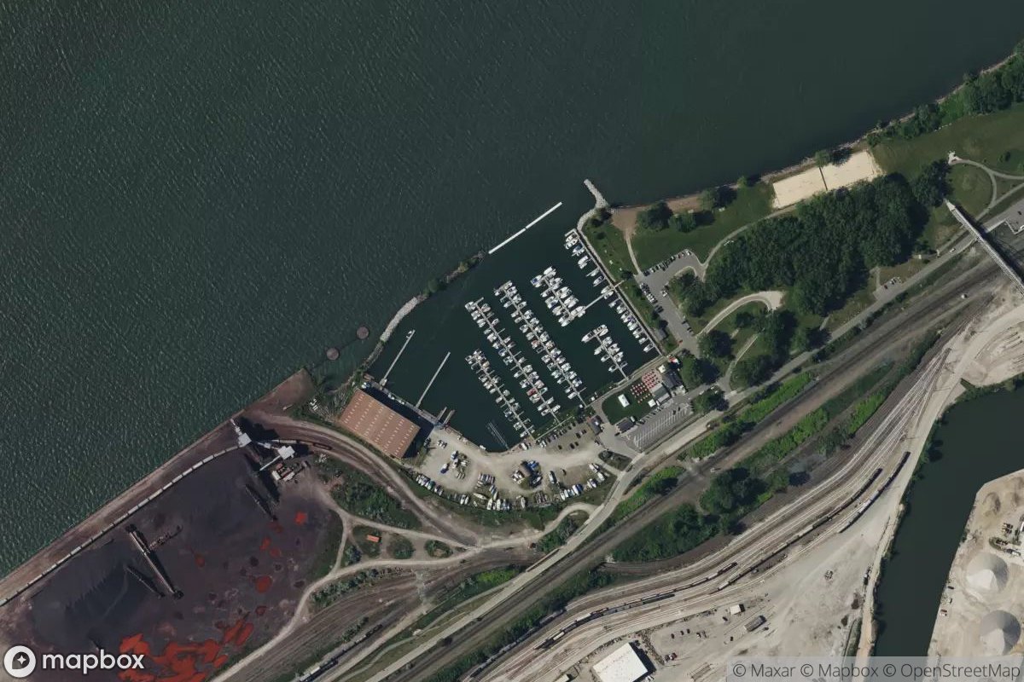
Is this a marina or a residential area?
marina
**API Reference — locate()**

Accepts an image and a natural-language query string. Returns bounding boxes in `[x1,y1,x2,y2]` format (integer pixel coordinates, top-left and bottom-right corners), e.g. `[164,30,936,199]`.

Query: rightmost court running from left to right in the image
[822,151,883,189]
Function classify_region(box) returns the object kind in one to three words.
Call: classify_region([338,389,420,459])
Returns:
building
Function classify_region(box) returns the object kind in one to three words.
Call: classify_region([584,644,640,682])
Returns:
building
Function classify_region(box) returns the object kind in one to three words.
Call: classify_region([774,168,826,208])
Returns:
sports court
